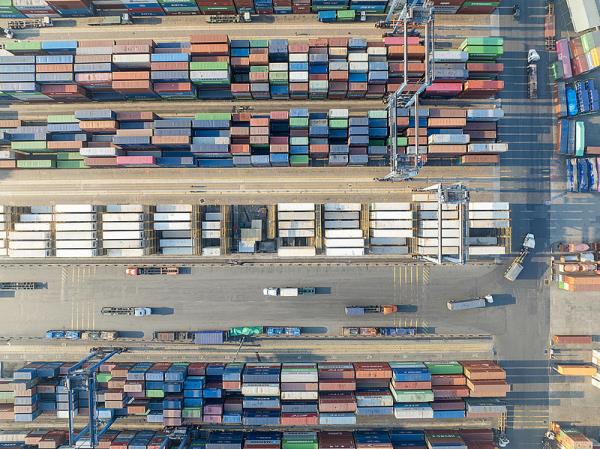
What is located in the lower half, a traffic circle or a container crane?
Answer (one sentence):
It is a container crane that can be seen in the lower half.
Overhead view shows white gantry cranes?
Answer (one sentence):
Yes, there's a white gantry crane here.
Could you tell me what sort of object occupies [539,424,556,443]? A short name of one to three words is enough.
vehicle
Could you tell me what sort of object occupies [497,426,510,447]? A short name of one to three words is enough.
vehicle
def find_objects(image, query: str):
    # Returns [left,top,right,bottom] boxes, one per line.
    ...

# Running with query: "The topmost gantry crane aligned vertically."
[381,0,431,107]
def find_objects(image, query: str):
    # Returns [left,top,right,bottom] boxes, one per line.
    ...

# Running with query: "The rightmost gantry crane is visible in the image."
[411,182,466,265]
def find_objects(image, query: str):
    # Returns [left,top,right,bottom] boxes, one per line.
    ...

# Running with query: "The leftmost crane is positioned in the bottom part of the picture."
[67,347,130,449]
